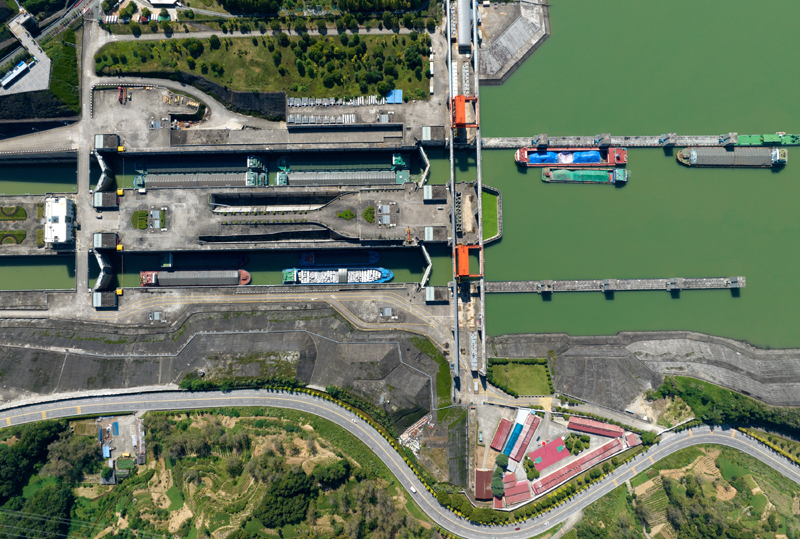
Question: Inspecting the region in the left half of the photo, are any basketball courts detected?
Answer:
No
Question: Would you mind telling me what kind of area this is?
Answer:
port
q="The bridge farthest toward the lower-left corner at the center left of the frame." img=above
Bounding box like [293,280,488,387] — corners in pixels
[76,251,89,292]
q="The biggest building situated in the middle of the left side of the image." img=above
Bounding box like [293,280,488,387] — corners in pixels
[45,197,80,252]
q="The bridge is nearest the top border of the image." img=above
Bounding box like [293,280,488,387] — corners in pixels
[77,149,90,195]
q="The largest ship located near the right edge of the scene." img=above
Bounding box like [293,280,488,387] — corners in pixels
[677,147,790,167]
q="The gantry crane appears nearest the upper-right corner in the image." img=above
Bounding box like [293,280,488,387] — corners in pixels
[450,96,480,132]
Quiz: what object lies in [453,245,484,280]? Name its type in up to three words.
container crane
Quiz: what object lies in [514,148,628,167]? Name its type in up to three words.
ship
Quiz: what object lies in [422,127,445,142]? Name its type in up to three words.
house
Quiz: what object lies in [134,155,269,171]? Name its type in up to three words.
ship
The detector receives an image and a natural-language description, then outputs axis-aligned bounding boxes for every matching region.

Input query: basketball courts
[530,437,570,471]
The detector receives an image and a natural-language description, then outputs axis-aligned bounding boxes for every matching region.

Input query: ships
[133,172,268,188]
[541,167,630,183]
[282,268,394,284]
[677,147,790,167]
[275,171,409,187]
[139,270,252,286]
[159,252,248,266]
[134,155,269,171]
[514,148,628,167]
[277,155,409,170]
